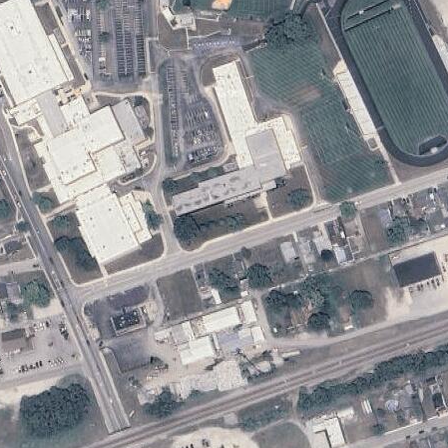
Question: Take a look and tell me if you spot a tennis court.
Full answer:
No, this view has no tennis court in it.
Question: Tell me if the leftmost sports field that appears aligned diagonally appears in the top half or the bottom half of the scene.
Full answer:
The top half of the photo is where the leftmost sports field that appears aligned diagonally is.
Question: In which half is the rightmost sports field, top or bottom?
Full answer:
You can find the rightmost sports field in the top half.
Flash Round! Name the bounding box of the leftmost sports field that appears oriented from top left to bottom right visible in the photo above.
[252,39,386,200]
